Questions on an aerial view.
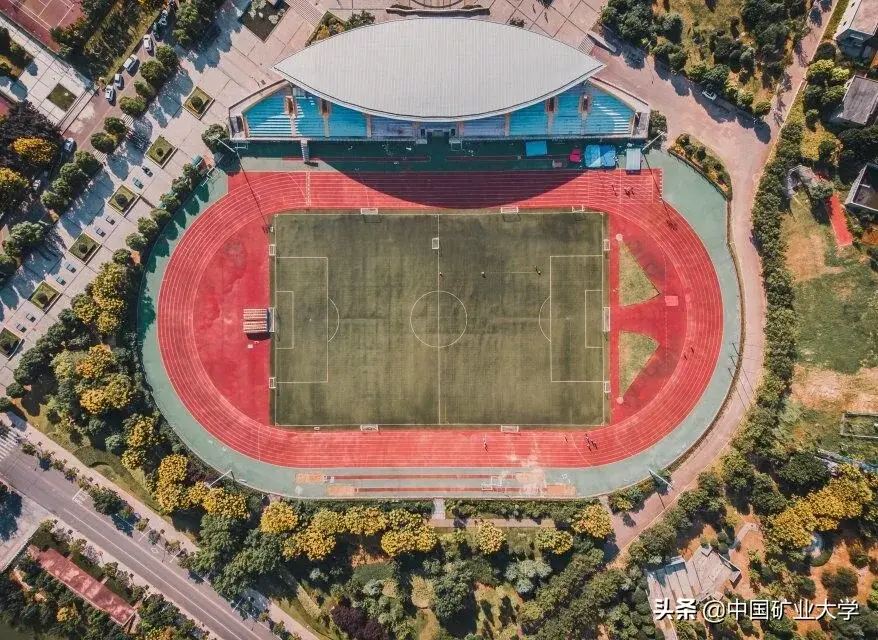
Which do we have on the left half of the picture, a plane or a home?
home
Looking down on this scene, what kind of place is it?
sports ground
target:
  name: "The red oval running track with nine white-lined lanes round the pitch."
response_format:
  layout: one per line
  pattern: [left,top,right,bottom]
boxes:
[158,172,723,468]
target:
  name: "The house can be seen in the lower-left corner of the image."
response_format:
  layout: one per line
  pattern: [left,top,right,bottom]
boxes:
[29,540,143,625]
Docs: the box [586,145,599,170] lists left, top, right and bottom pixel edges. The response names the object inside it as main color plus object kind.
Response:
blue tent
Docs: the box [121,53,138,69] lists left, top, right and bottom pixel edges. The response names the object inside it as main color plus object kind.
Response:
white vehicle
